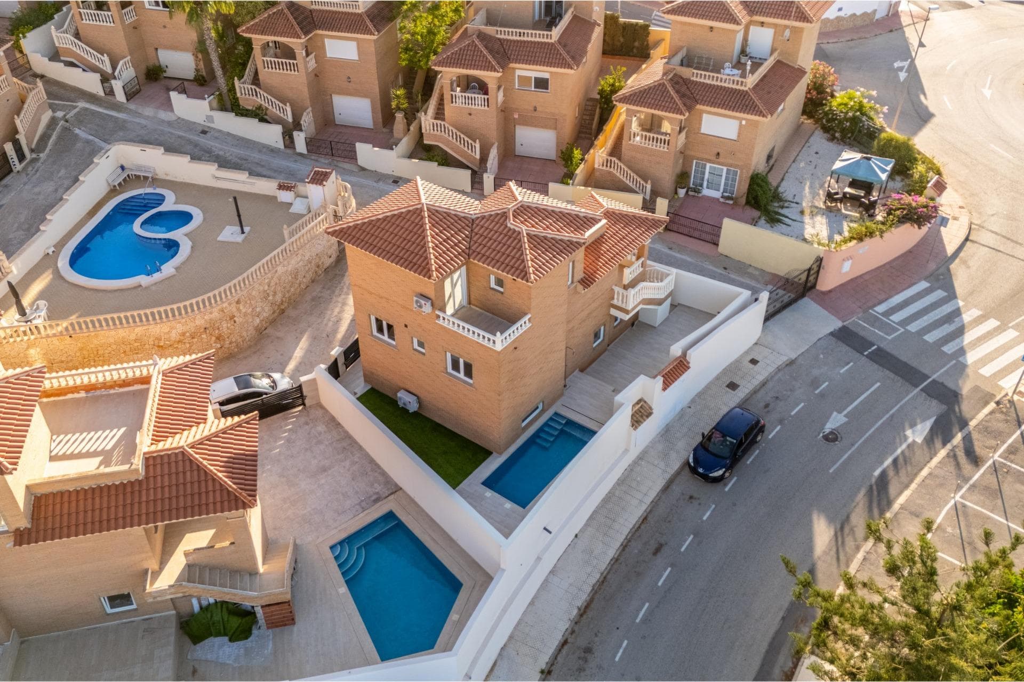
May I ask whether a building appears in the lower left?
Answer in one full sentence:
Yes, a building shows up in the lower left.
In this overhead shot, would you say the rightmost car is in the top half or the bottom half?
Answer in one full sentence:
The rightmost car sits in the bottom half of the picture.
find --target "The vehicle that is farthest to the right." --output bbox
[689,409,764,488]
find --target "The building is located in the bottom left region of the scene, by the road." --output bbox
[0,346,298,681]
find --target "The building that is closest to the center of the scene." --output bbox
[322,173,678,455]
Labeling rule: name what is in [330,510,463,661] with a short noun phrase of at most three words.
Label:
swimming pool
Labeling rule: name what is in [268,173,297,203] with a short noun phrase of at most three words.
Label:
building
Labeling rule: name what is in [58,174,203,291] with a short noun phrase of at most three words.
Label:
swimming pool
